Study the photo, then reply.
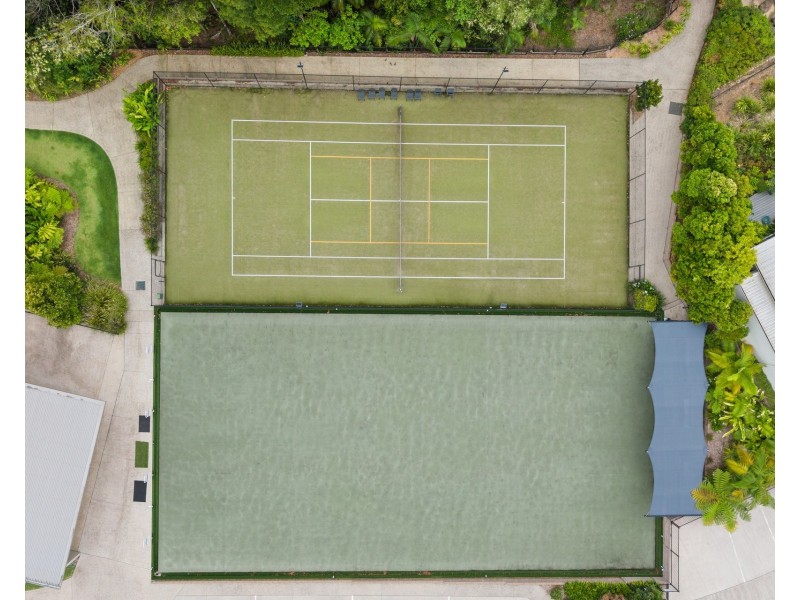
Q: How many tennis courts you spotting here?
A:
one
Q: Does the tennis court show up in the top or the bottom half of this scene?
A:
top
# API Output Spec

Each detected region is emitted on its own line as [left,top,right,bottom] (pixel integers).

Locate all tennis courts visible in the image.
[163,87,630,308]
